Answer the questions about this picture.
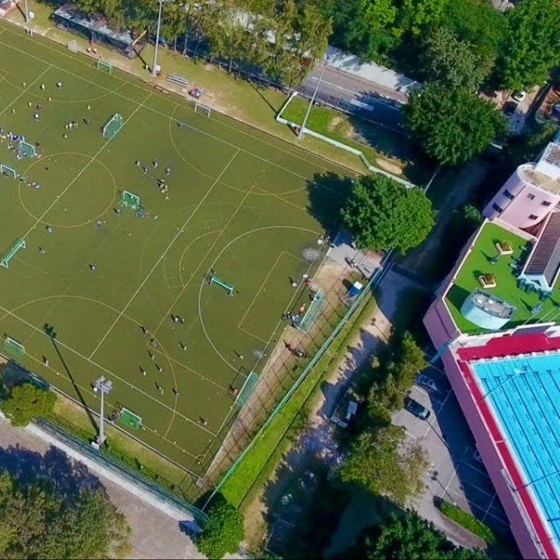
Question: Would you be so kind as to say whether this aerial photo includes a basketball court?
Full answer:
No, no basketball court is visible in the scene.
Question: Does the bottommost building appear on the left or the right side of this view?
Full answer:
It is on the right.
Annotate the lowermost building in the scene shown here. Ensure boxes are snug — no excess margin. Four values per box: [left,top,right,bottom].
[414,208,560,560]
